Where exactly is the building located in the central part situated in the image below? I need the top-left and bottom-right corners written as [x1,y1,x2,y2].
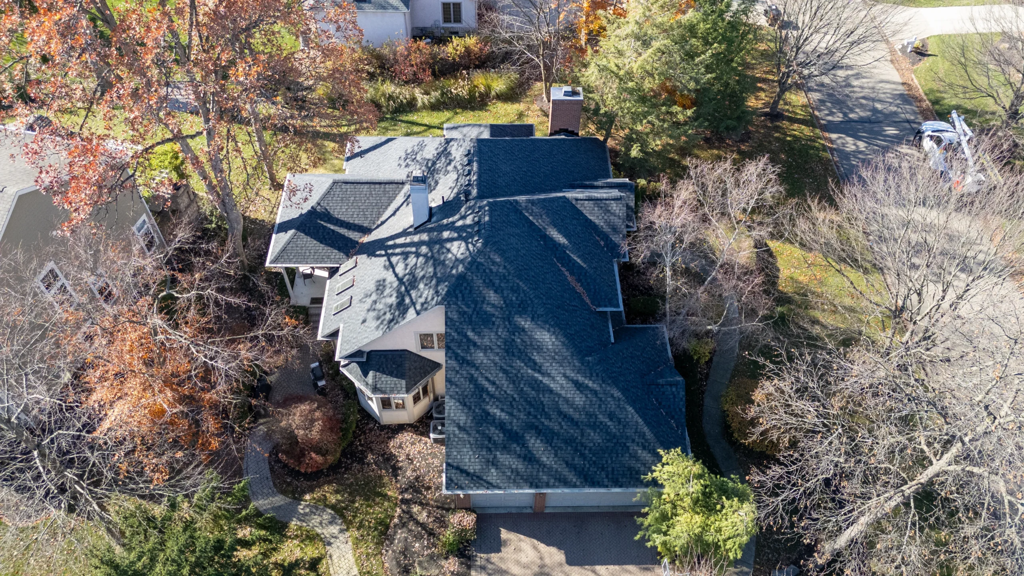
[264,84,691,518]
